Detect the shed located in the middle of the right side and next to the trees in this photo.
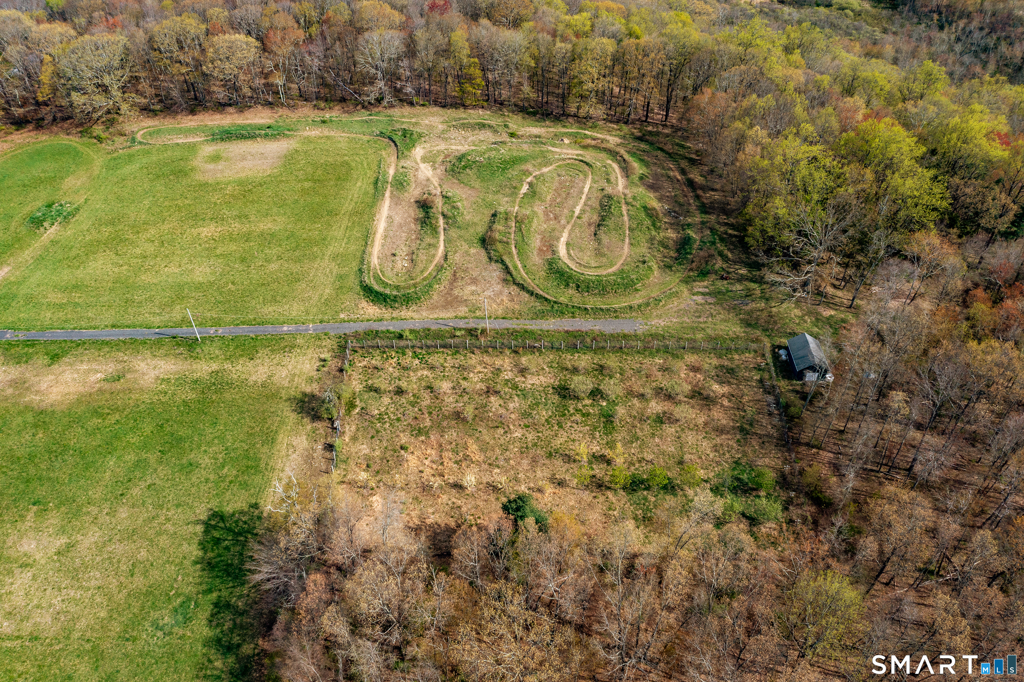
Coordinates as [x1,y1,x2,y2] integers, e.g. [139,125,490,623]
[787,332,830,378]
